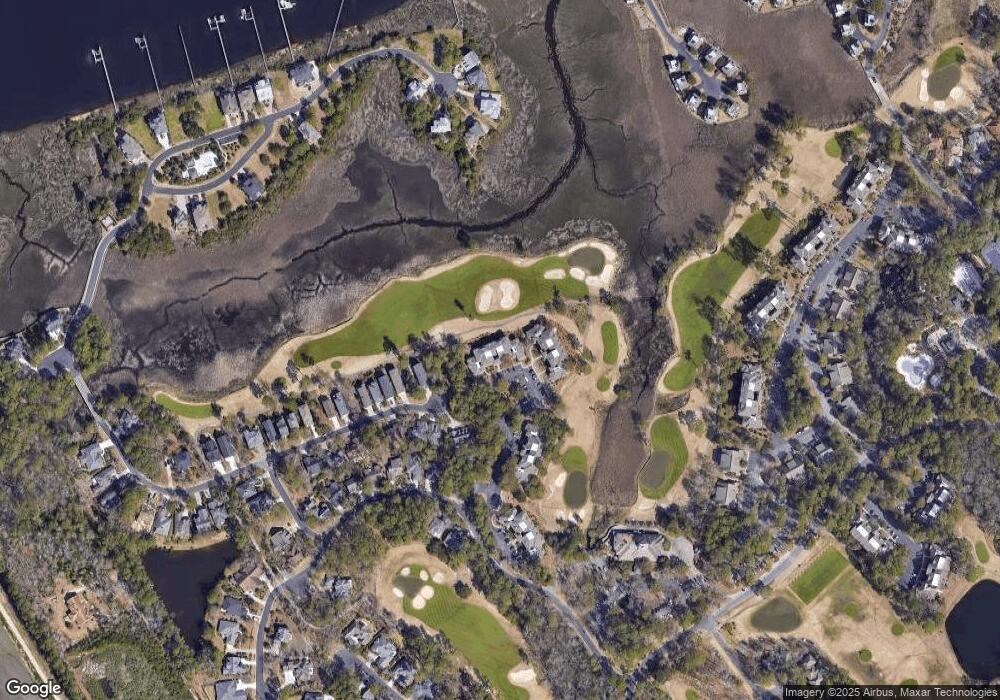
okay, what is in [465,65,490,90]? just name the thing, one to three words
house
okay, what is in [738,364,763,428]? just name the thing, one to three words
building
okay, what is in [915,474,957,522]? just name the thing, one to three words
building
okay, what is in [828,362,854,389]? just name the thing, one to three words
house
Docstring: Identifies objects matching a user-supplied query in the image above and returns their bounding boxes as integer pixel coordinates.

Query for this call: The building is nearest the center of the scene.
[468,334,526,376]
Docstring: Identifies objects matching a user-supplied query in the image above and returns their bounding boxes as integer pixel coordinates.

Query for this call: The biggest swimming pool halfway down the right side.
[896,355,934,390]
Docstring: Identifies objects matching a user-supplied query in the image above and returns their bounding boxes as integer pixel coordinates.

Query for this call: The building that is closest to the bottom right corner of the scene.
[918,545,953,597]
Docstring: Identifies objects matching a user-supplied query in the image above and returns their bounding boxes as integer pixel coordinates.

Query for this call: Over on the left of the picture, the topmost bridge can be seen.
[79,230,110,301]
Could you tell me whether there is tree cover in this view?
Yes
